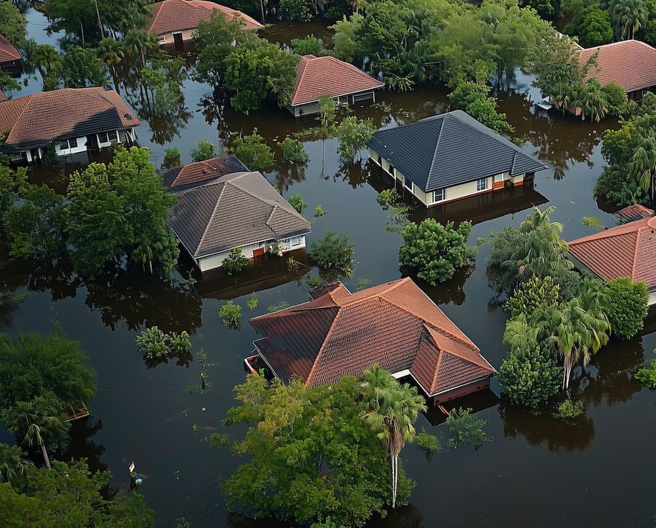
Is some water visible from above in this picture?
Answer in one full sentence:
Yes, water shows up in the scene.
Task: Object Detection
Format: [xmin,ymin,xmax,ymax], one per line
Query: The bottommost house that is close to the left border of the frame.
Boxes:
[0,86,141,163]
